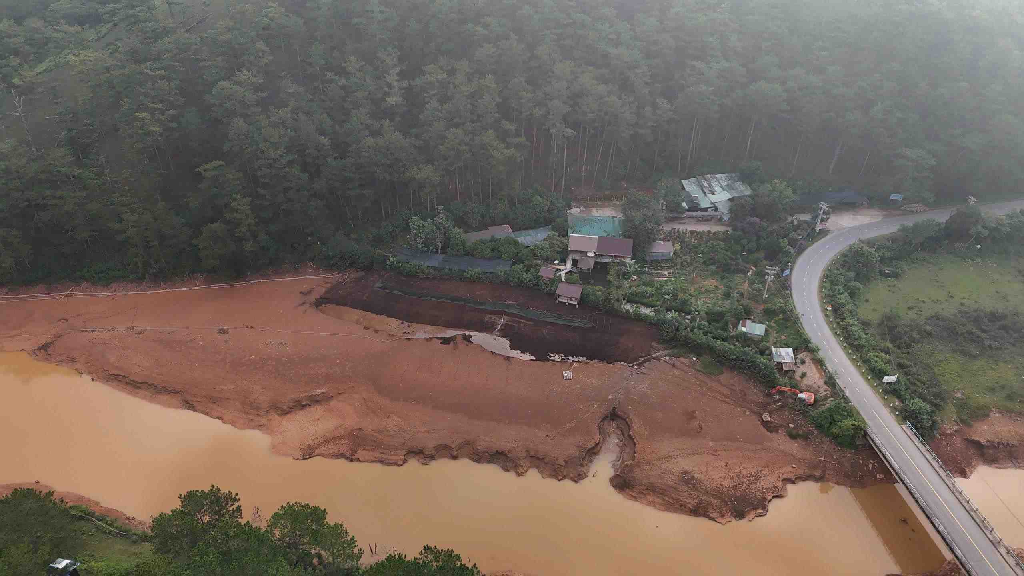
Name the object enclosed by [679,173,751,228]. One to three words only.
shed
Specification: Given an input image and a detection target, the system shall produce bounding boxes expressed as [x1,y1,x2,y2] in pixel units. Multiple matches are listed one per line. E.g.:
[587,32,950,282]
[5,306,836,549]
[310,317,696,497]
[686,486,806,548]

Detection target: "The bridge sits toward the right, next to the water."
[872,410,1024,576]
